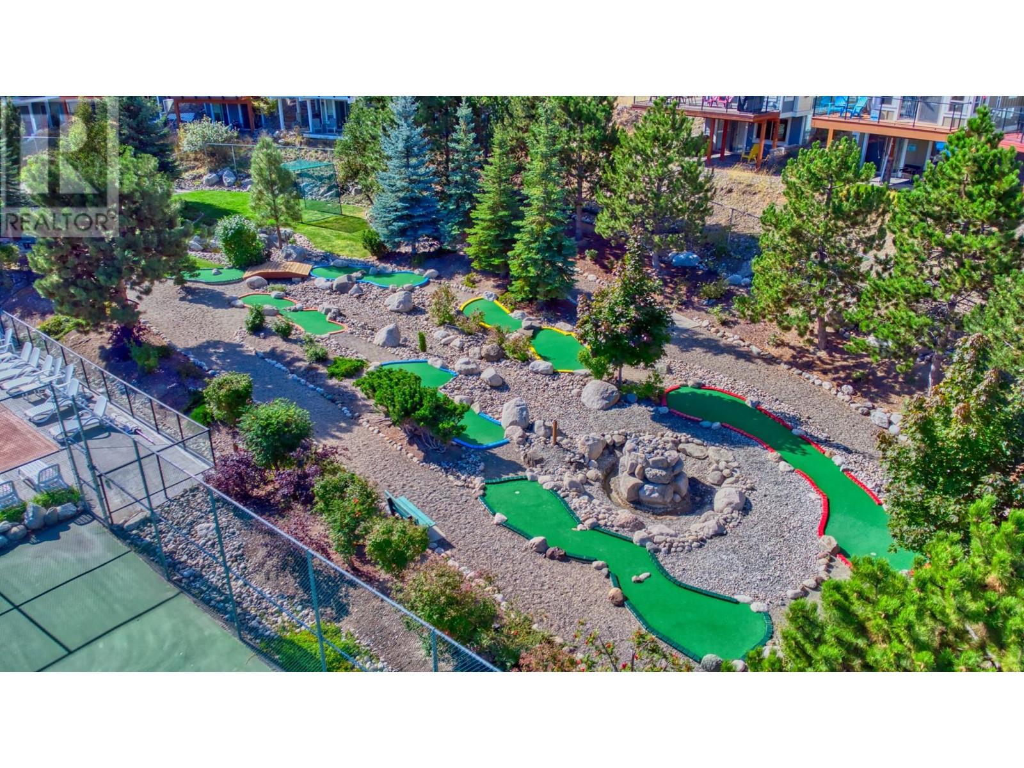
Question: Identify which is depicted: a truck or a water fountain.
water fountain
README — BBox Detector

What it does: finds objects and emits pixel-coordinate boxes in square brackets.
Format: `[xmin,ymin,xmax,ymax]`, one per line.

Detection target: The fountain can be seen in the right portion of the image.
[591,429,712,531]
